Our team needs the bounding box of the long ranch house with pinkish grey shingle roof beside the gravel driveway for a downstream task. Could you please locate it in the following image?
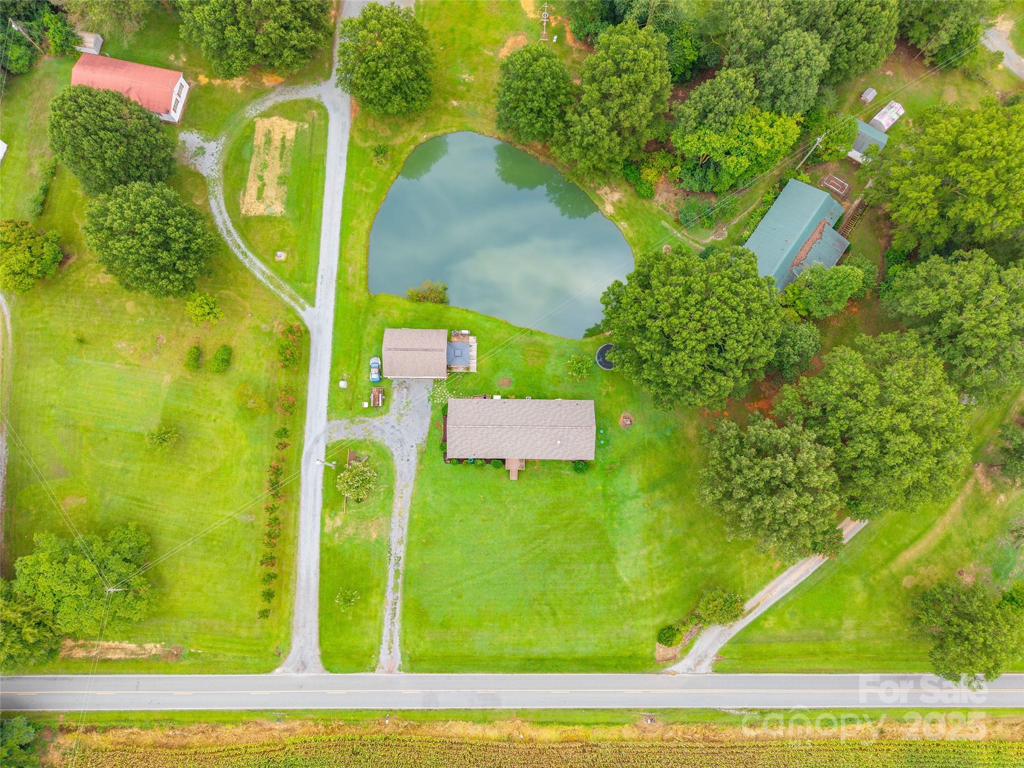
[446,398,595,460]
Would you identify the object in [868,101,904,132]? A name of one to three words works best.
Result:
shed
